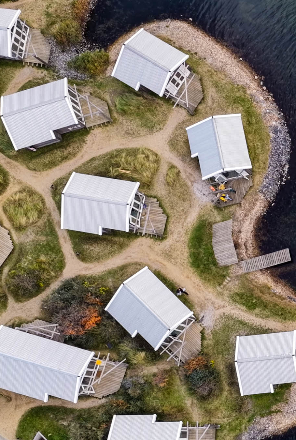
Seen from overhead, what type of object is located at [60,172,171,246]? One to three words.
shed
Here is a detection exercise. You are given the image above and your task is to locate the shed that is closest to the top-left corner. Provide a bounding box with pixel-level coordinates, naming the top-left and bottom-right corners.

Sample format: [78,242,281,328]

[0,9,57,74]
